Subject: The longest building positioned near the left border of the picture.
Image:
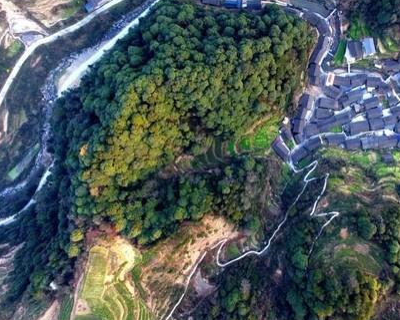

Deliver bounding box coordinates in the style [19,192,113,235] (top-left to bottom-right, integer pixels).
[17,29,47,42]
